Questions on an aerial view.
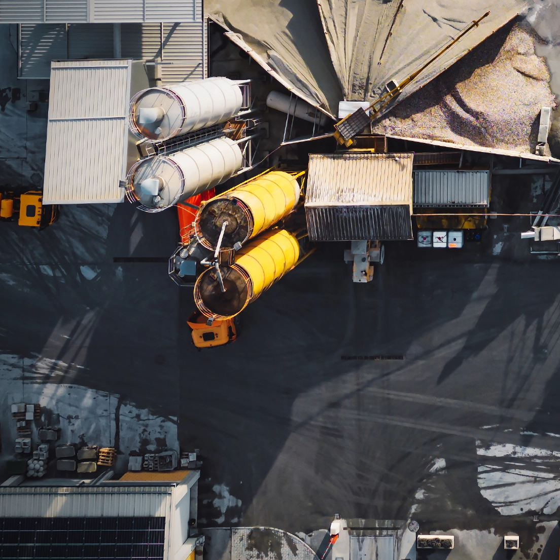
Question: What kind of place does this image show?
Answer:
industrial area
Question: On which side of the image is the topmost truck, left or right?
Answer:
left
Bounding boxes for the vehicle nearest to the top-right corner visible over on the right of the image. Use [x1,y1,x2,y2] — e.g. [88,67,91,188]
[342,241,382,288]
